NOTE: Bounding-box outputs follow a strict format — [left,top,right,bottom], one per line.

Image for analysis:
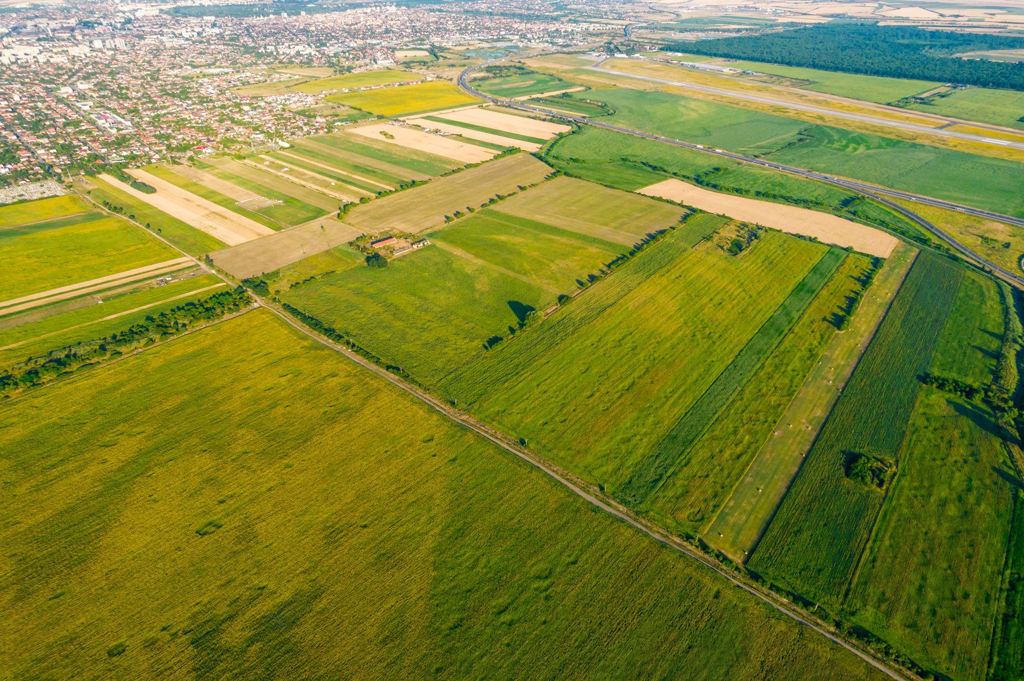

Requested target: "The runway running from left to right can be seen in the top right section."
[578,66,1024,149]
